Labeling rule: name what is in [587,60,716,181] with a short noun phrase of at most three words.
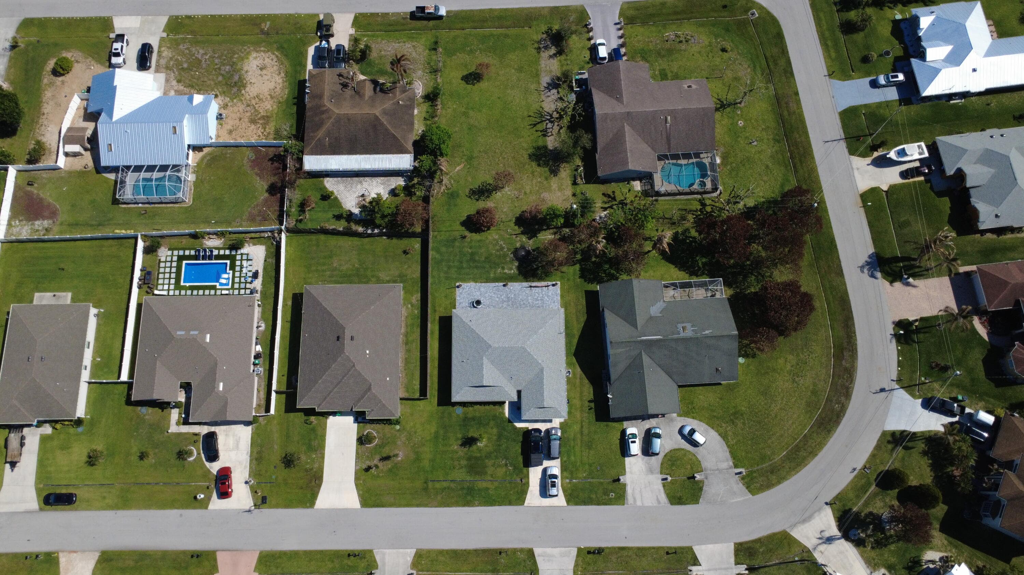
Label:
house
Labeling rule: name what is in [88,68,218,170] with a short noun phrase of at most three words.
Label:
house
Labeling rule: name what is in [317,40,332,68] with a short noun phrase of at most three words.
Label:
vehicle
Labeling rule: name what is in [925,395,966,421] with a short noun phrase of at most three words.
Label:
truck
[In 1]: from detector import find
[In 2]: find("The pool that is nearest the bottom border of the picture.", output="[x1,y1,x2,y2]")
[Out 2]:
[181,260,232,288]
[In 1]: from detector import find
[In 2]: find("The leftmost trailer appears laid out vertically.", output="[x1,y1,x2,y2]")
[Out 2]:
[4,425,26,474]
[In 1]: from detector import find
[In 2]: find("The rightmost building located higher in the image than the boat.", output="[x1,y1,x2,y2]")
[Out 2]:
[905,0,1024,102]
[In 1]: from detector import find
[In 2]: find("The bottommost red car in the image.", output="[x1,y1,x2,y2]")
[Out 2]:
[215,466,233,500]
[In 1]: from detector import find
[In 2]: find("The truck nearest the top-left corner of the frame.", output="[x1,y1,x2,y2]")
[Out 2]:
[109,34,131,67]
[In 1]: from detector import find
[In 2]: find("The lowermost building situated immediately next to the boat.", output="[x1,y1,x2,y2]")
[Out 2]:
[929,126,1024,232]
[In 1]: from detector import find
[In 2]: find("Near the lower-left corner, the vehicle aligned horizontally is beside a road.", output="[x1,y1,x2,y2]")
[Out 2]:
[44,492,78,508]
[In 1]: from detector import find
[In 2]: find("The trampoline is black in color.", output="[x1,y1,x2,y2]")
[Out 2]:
[513,243,532,261]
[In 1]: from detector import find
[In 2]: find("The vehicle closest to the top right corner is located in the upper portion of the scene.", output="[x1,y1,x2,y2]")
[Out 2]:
[875,73,905,88]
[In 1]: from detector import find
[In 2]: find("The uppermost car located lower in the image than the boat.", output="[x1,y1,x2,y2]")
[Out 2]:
[902,164,934,180]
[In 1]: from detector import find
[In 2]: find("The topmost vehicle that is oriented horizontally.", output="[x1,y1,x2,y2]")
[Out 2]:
[415,4,446,18]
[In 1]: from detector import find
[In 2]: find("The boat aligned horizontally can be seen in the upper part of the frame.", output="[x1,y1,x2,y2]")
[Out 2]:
[879,143,932,162]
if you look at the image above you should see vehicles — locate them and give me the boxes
[925,395,966,421]
[625,426,640,457]
[109,34,131,67]
[875,73,905,88]
[203,431,220,464]
[317,40,332,68]
[333,44,346,68]
[529,429,545,468]
[612,45,624,62]
[545,466,560,498]
[322,11,336,37]
[44,492,78,508]
[138,44,154,69]
[415,4,446,18]
[596,40,609,64]
[902,164,934,180]
[649,425,664,456]
[547,427,562,459]
[678,424,709,449]
[215,466,233,500]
